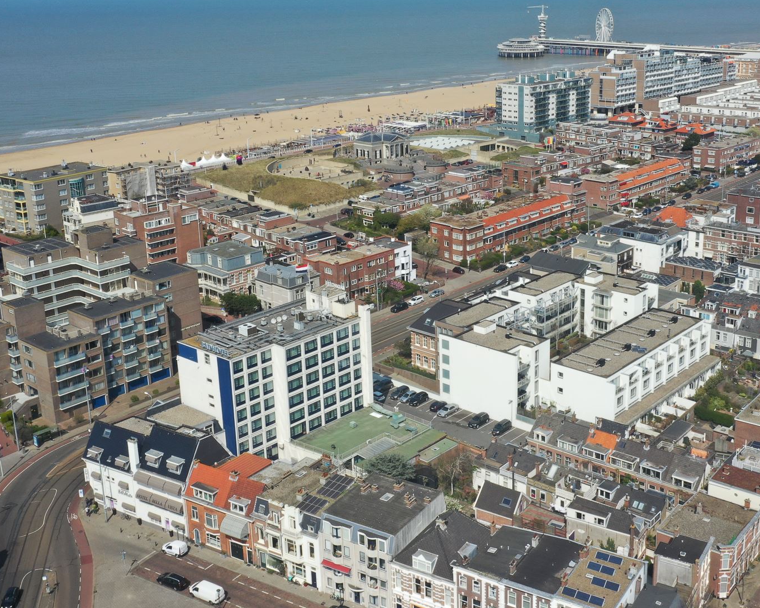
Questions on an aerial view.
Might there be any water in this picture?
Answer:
Yes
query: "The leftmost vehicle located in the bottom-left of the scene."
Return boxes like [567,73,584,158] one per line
[1,585,21,608]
